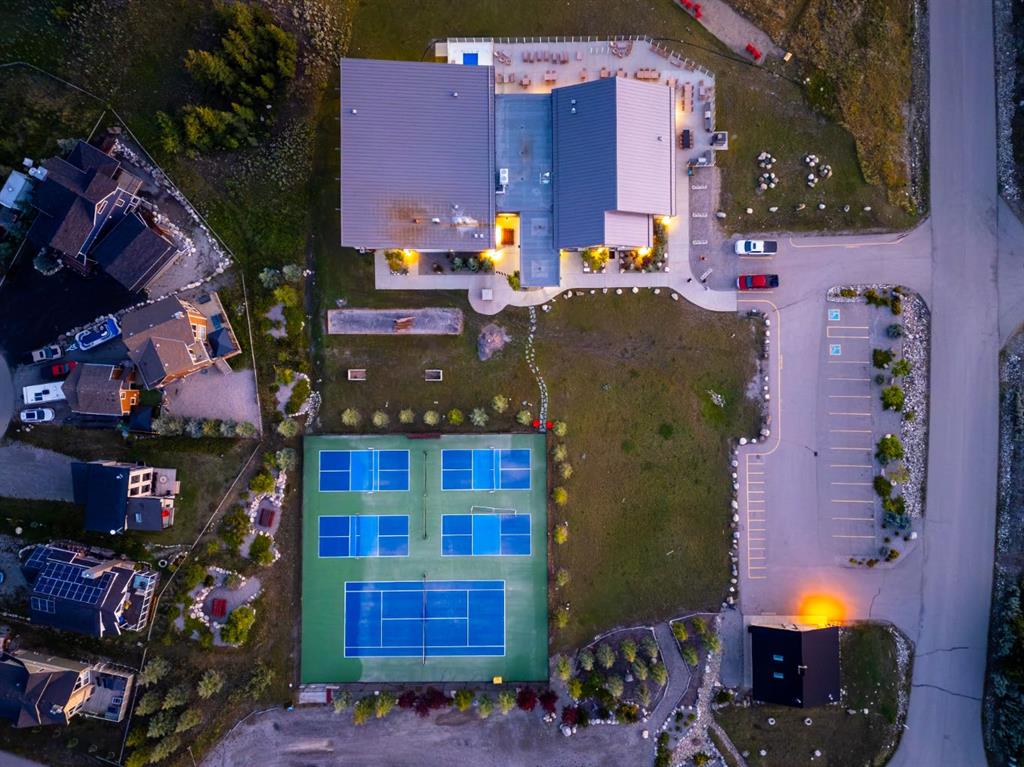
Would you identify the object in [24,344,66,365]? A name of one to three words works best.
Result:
truck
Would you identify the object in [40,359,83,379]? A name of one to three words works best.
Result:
vehicle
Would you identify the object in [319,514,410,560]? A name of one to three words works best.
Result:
sports court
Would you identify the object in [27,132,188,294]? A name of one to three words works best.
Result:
house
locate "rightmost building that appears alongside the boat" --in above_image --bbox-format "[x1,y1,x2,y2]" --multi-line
[122,291,242,389]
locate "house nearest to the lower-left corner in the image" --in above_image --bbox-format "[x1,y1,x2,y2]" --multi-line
[0,643,137,730]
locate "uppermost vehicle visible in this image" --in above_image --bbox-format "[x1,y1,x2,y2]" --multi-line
[734,239,776,256]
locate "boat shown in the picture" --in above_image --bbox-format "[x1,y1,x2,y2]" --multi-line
[74,317,122,349]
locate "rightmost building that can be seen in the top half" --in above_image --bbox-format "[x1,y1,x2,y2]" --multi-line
[338,57,674,288]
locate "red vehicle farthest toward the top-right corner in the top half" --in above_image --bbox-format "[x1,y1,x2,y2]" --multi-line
[736,274,778,290]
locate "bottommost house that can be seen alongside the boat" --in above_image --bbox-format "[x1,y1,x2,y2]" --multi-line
[62,364,141,416]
